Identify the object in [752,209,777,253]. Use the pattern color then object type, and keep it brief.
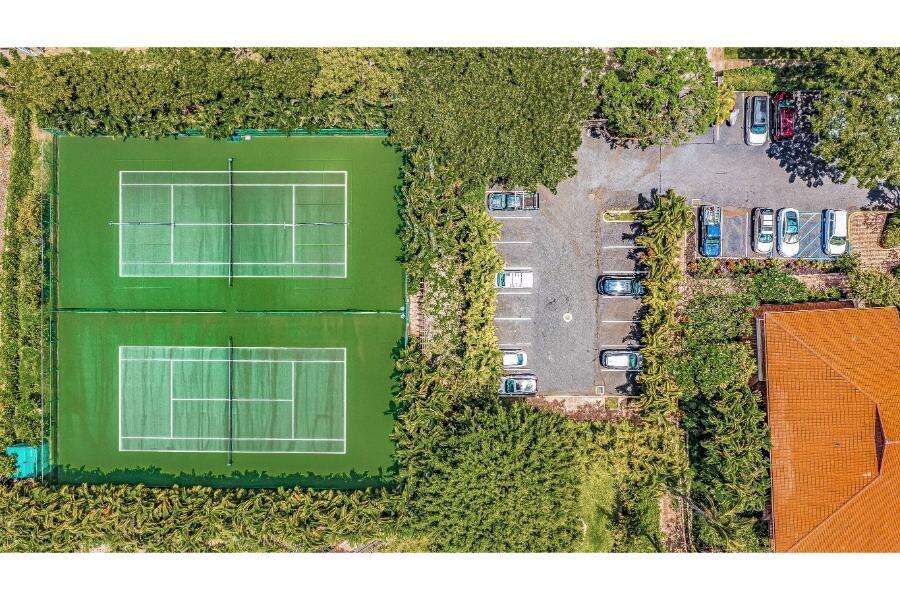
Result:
white car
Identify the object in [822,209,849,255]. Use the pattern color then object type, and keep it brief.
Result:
white vehicle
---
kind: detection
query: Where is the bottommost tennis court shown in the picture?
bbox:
[57,311,405,482]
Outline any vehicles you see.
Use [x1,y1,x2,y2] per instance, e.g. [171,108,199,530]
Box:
[744,97,770,146]
[599,351,644,372]
[489,269,534,290]
[752,209,777,253]
[698,206,722,257]
[489,350,526,368]
[487,190,540,211]
[822,209,849,255]
[730,109,743,126]
[776,210,802,256]
[597,275,645,297]
[499,374,540,395]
